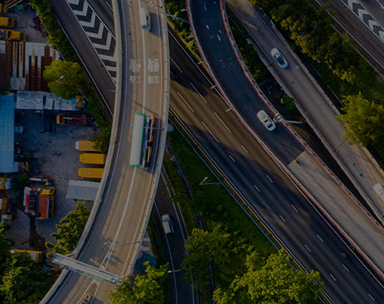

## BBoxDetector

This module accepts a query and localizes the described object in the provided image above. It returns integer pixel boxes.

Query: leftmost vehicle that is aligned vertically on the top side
[42,108,55,134]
